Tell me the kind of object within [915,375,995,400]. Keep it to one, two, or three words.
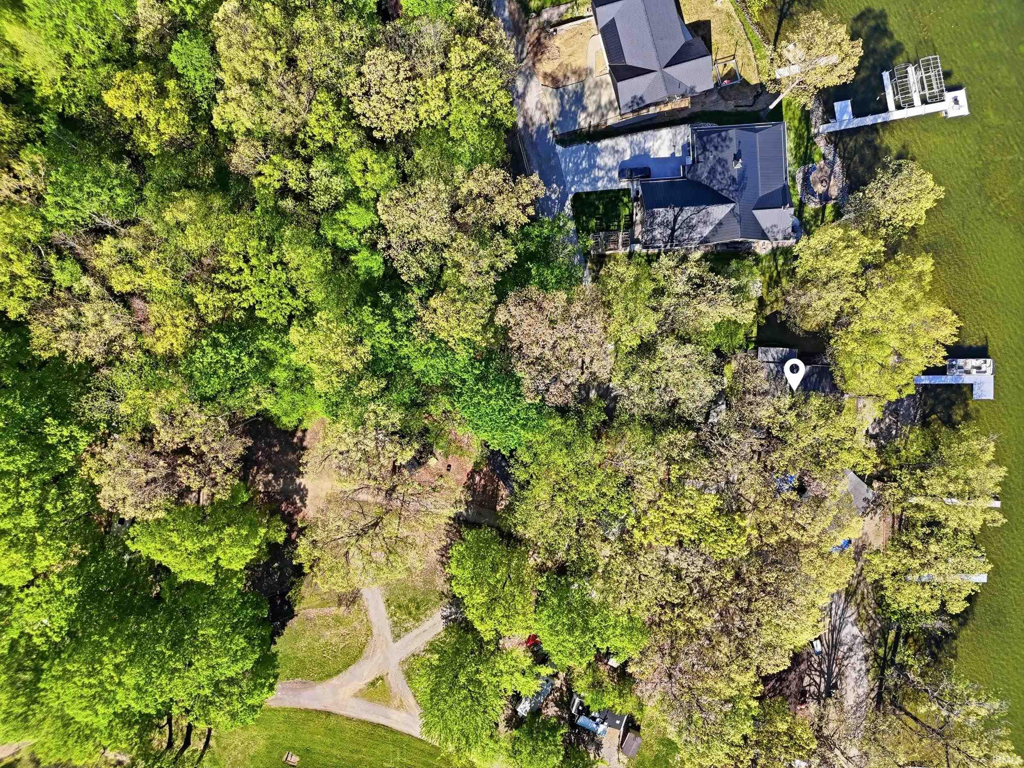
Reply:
pier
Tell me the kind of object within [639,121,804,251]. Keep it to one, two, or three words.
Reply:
house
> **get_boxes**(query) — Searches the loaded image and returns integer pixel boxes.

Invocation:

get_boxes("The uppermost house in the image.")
[593,0,713,120]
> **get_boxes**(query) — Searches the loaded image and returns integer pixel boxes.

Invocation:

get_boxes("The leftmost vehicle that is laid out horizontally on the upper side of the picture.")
[618,166,651,182]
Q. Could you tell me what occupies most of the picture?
trees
